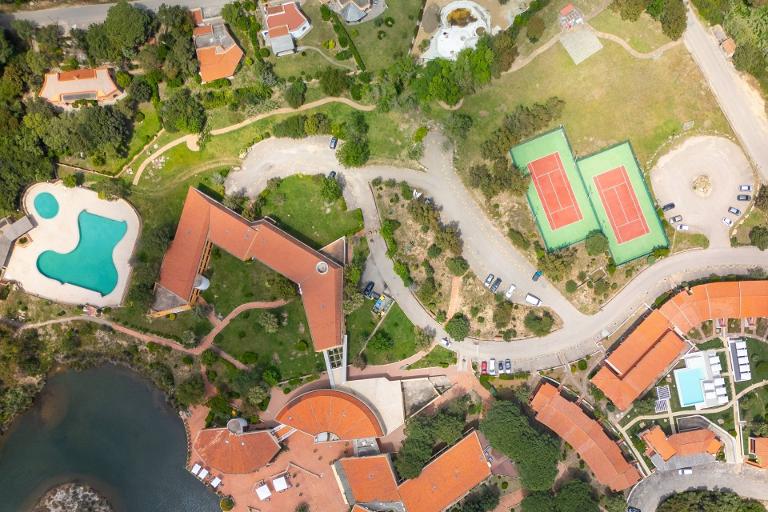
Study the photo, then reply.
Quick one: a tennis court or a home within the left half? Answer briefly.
home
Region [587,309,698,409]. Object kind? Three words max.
building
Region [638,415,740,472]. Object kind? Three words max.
house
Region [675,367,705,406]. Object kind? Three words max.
swimming pool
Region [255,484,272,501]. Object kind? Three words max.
umbrella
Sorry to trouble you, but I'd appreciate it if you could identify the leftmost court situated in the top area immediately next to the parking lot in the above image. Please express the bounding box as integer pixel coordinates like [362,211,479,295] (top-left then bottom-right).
[512,125,607,252]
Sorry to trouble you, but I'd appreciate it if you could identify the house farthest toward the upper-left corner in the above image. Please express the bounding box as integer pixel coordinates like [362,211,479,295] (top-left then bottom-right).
[38,67,128,105]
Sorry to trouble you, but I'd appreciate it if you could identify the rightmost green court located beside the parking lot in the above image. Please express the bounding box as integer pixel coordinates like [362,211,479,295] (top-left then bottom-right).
[578,140,673,266]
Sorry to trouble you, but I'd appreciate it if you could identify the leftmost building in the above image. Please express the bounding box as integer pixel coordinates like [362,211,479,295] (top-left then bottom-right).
[0,216,38,269]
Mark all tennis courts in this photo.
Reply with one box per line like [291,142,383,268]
[578,140,673,266]
[512,125,607,252]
